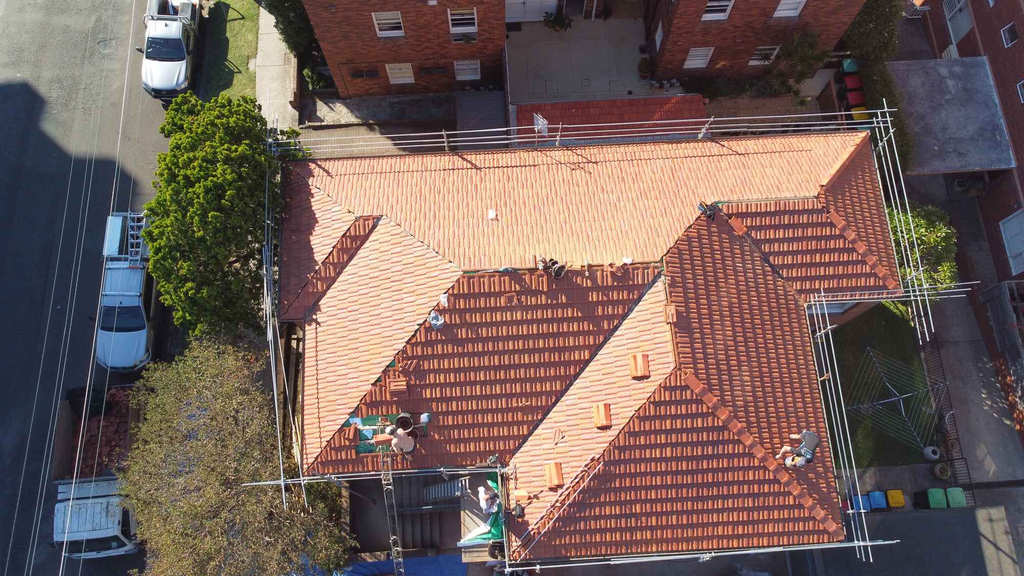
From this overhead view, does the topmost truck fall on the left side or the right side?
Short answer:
left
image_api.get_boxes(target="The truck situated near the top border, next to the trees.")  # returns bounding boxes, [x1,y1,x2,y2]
[131,0,202,110]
